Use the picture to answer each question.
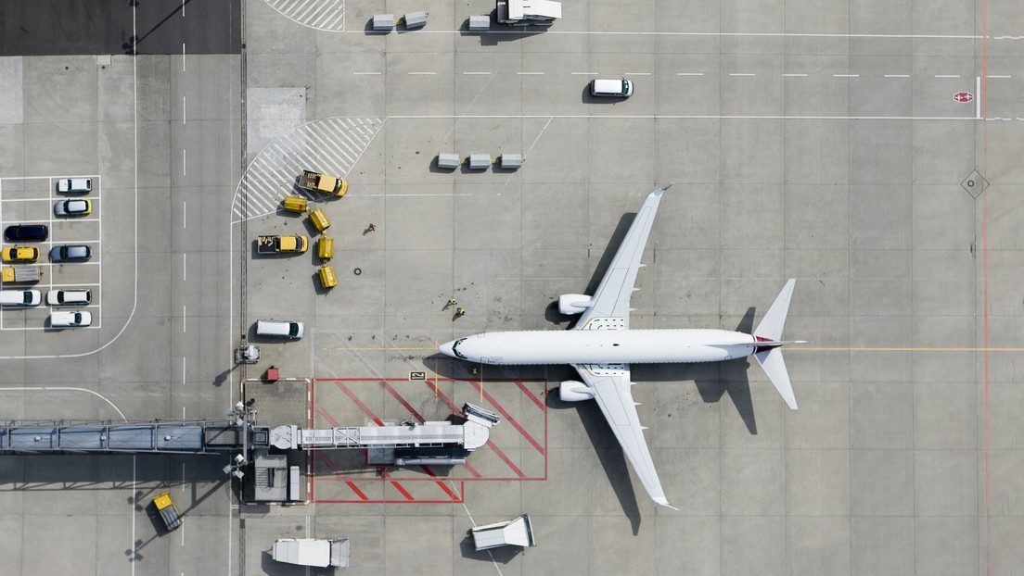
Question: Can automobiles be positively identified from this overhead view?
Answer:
Yes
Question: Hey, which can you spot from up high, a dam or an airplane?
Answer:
airplane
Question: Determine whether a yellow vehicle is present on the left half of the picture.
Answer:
Yes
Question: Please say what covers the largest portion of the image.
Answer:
paved ground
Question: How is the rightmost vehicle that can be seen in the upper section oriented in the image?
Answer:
from left to right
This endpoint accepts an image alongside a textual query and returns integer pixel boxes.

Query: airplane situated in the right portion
[438,182,809,508]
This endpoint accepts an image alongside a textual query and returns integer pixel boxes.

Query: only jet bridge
[269,402,503,465]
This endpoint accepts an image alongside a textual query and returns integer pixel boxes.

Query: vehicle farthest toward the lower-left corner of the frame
[151,492,183,531]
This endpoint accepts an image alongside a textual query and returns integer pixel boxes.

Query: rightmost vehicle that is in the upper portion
[590,77,634,97]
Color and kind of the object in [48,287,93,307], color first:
white car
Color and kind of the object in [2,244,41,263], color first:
yellow car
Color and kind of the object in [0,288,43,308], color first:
white vehicle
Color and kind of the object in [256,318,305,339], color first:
white vehicle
